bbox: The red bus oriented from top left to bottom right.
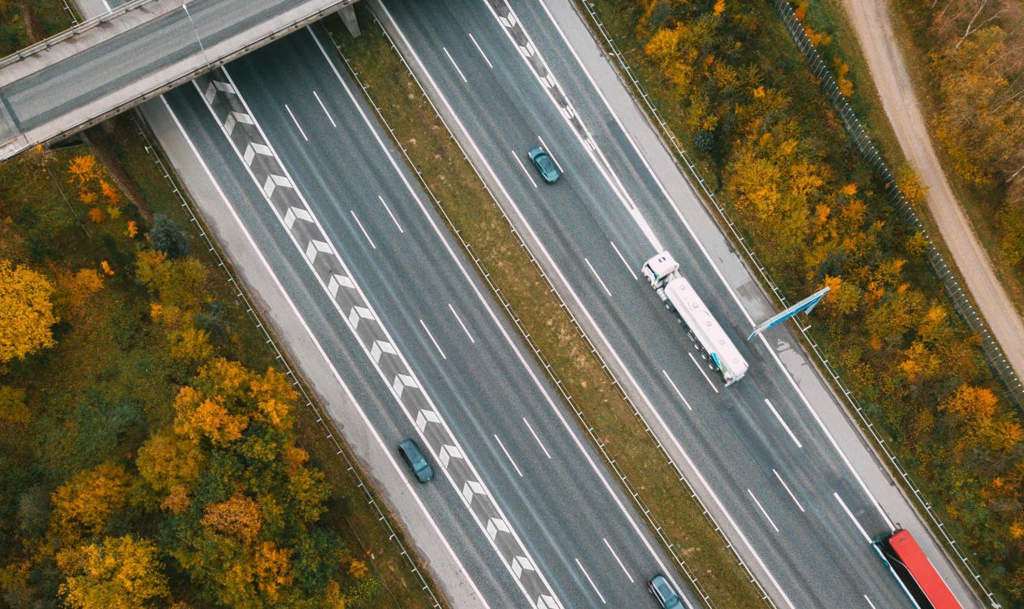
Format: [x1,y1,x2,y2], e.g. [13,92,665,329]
[874,521,965,609]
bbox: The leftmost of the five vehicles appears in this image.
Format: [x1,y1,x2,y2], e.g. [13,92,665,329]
[398,438,433,484]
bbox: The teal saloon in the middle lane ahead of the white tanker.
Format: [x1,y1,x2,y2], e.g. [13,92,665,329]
[526,147,560,186]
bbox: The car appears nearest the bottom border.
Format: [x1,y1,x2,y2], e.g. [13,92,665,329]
[648,572,686,609]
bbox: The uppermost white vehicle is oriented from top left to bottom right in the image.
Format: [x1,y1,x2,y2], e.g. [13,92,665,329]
[642,253,747,389]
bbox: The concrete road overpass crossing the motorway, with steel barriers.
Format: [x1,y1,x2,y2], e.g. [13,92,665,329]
[0,0,362,160]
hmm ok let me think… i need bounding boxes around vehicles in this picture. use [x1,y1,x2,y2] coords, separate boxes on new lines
[398,438,433,484]
[526,147,560,186]
[648,572,686,609]
[874,521,965,609]
[642,253,747,389]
